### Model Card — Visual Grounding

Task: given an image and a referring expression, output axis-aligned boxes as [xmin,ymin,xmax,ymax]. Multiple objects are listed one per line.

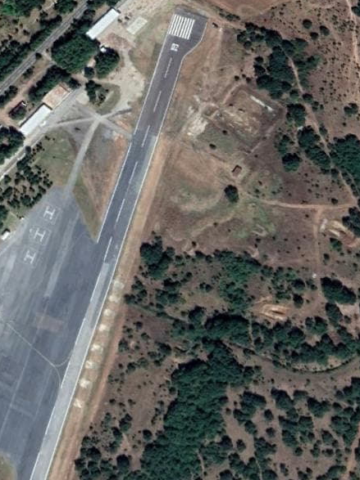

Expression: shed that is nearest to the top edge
[86,8,119,38]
